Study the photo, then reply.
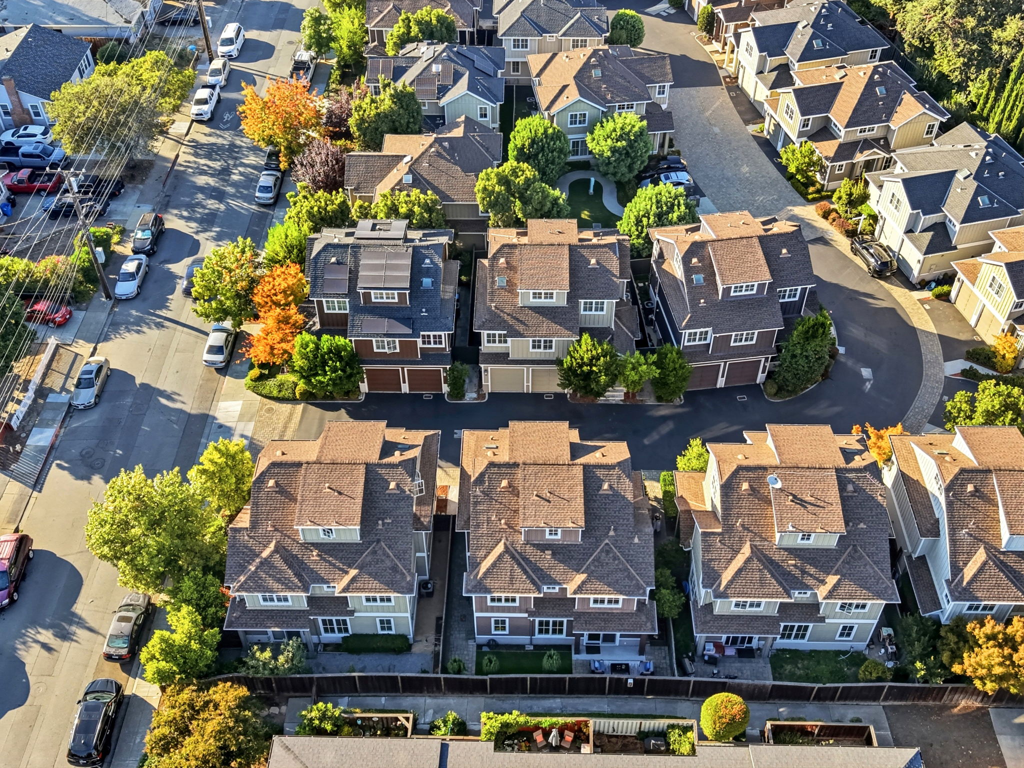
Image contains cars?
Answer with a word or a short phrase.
Yes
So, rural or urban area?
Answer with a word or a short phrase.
urban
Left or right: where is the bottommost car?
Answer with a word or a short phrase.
left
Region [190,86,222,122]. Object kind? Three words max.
truck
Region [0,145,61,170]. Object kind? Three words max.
truck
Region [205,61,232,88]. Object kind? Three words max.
car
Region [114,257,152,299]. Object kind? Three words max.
car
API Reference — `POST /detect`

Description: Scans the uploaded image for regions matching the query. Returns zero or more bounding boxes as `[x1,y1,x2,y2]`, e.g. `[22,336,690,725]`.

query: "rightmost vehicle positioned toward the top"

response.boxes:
[847,240,903,278]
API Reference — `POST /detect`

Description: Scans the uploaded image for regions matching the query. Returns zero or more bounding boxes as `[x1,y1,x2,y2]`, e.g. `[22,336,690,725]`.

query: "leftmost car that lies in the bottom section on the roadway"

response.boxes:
[0,535,38,607]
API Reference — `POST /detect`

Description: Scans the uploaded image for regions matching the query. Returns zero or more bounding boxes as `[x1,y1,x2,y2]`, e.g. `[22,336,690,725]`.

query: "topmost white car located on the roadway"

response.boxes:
[219,25,246,58]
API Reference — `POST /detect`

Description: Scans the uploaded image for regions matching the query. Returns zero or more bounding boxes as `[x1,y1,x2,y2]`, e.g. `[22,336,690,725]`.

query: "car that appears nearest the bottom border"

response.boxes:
[63,684,127,768]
